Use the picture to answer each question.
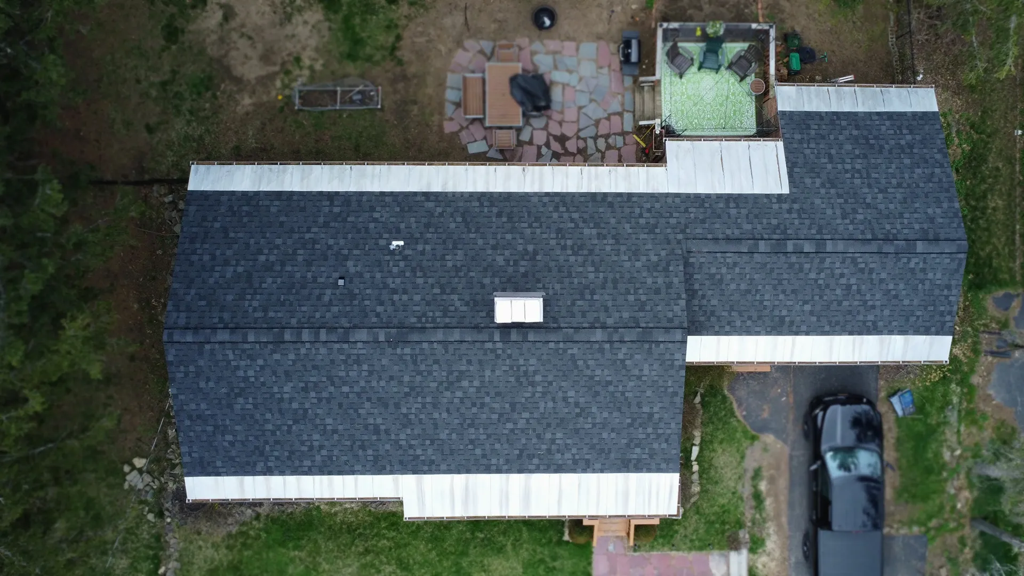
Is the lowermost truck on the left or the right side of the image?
right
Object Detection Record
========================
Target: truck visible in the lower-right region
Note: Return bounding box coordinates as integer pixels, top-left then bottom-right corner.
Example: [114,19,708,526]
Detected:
[796,388,894,576]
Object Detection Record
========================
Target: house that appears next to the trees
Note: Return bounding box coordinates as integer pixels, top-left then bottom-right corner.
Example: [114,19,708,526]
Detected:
[161,81,968,522]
